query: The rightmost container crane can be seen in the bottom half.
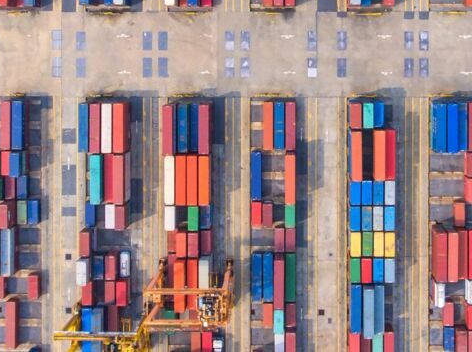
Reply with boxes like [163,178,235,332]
[144,263,233,328]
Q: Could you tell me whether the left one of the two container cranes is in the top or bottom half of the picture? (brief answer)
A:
bottom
